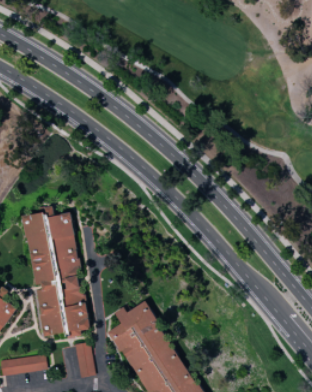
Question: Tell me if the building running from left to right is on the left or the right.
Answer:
left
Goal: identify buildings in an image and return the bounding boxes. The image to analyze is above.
[1,356,48,376]
[22,206,90,338]
[110,302,201,392]
[75,343,96,378]
[0,287,15,337]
